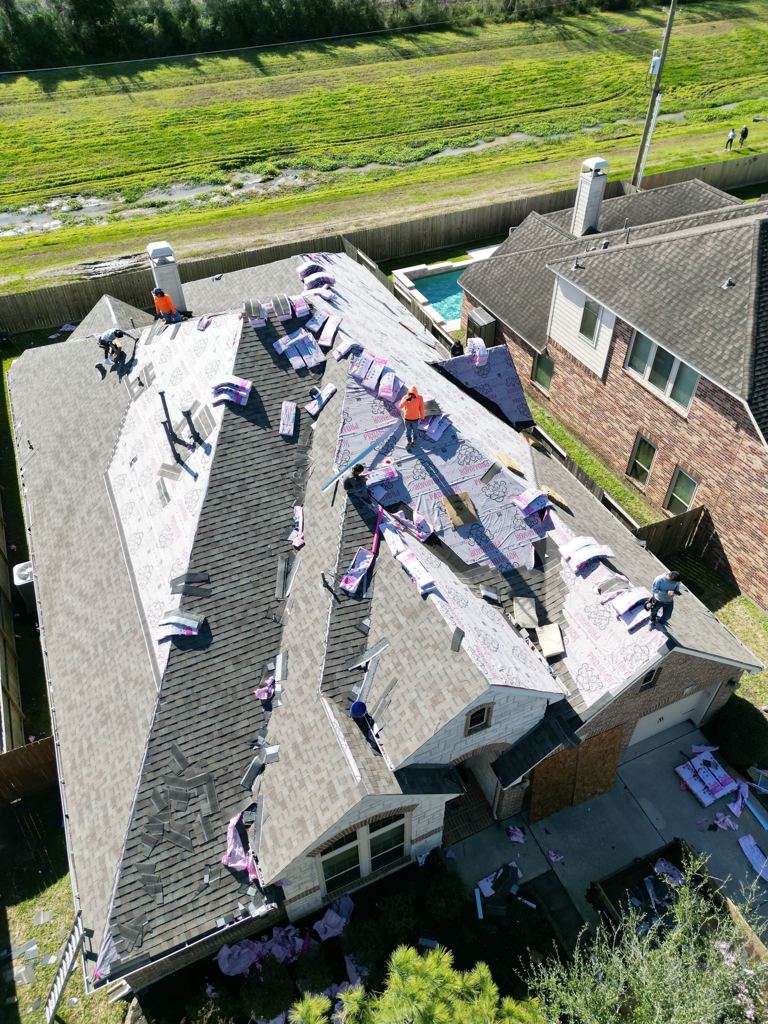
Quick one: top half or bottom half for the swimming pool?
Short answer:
top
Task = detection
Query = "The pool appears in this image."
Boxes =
[392,242,506,335]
